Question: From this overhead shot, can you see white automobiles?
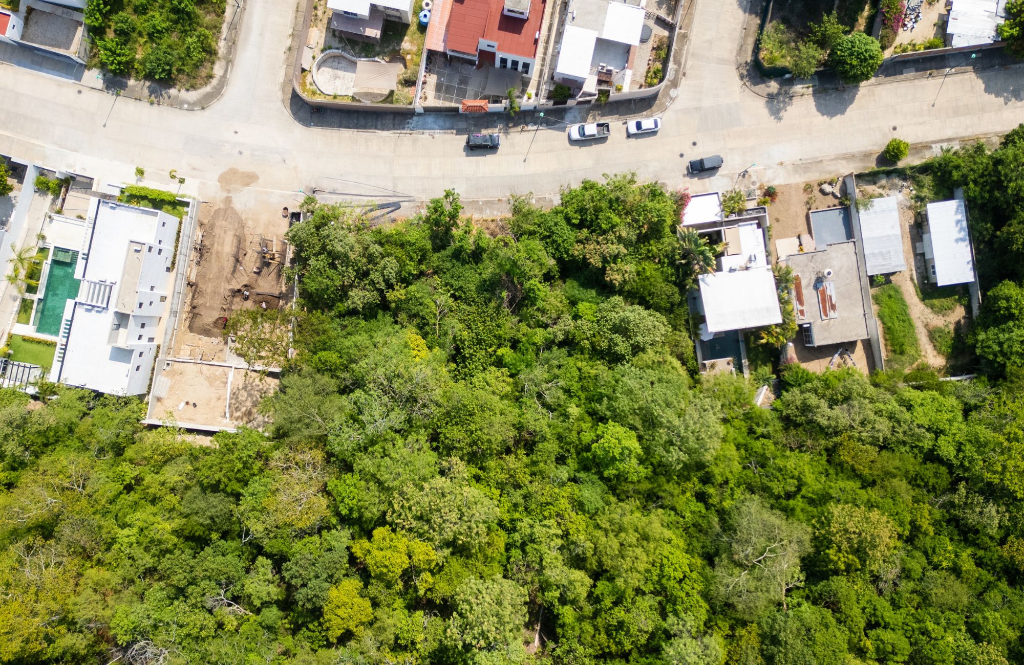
Yes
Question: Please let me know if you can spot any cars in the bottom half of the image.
No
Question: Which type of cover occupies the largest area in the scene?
trees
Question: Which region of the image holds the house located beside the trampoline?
top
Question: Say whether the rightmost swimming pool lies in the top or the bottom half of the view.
top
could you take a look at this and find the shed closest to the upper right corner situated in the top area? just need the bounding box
[936,0,1009,48]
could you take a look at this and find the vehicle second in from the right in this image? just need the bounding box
[627,118,661,135]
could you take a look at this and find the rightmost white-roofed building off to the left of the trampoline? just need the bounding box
[554,0,646,99]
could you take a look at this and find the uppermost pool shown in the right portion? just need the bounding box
[810,205,858,247]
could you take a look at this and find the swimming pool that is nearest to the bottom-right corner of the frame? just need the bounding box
[700,328,752,382]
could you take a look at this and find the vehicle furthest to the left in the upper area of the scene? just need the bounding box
[464,132,499,150]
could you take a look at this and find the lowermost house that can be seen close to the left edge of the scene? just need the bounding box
[49,199,180,395]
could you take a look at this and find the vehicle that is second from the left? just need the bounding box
[569,122,610,141]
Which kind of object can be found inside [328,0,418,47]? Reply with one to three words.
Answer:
house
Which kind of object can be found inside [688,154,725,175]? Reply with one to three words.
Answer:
car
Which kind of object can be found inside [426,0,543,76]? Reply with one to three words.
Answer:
house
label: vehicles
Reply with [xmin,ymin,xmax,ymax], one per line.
[464,132,499,150]
[688,154,725,175]
[569,122,610,141]
[627,118,661,135]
